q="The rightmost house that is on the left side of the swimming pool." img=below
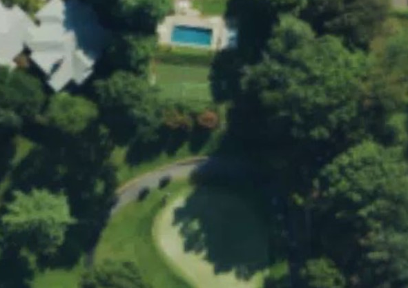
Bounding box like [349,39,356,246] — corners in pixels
[30,0,106,92]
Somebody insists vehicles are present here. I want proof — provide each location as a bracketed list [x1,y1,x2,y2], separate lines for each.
[139,186,150,196]
[160,177,172,186]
